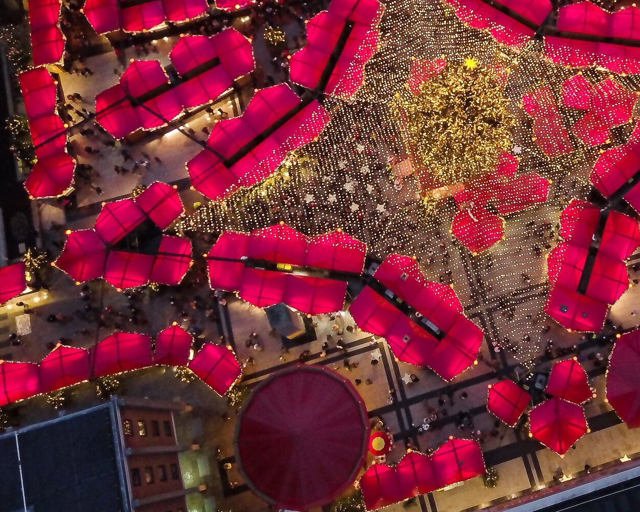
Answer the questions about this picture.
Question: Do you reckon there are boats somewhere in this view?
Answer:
No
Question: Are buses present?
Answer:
No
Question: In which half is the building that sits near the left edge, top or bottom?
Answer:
bottom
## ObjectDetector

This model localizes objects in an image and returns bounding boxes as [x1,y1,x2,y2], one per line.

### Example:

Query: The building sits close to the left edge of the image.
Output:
[0,391,222,512]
